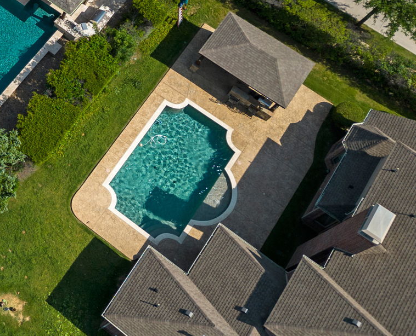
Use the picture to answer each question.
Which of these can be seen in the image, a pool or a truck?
pool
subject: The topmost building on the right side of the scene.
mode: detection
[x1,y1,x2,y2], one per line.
[190,12,316,116]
